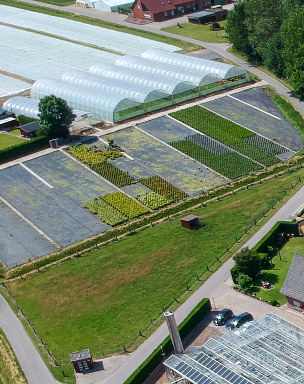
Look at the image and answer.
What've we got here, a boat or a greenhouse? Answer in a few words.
greenhouse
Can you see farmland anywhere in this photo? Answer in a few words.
Yes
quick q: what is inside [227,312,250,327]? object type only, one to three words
car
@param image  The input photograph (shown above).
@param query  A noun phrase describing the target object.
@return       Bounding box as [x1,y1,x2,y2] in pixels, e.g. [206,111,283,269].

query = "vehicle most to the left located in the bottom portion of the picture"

[212,308,234,325]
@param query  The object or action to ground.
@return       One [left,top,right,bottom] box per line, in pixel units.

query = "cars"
[212,308,234,325]
[227,312,250,327]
